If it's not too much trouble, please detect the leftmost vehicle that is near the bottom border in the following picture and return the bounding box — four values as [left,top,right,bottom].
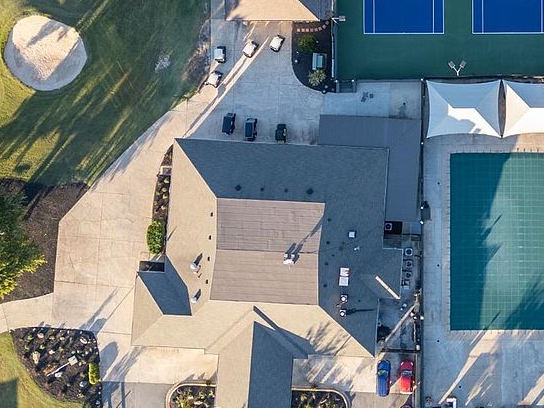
[375,361,391,398]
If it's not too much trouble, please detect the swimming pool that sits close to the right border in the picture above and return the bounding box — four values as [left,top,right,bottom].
[422,80,544,408]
